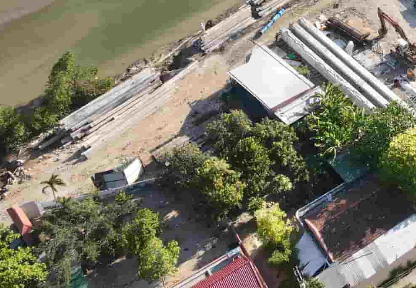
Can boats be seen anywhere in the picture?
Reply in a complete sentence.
No, no boat is visible in the view.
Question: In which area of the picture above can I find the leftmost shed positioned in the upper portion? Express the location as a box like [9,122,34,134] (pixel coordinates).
[228,41,321,135]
